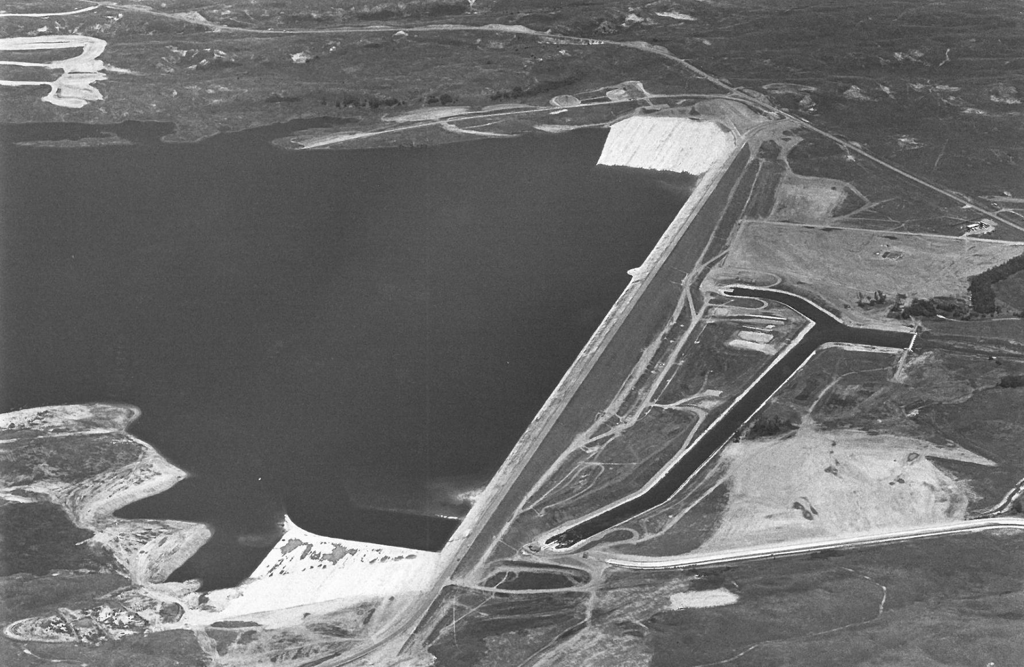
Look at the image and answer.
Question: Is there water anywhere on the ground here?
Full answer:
Yes, there's water in this view.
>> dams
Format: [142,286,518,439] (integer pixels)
[390,142,751,667]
